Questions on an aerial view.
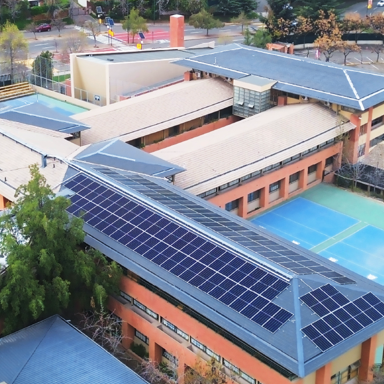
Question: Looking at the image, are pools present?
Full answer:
No, I can see no pool in this picture.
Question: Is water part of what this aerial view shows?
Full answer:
No, there's no water in this view.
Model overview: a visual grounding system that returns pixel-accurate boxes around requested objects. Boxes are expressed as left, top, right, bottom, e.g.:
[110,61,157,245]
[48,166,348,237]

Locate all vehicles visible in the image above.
[377,0,384,6]
[34,23,52,32]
